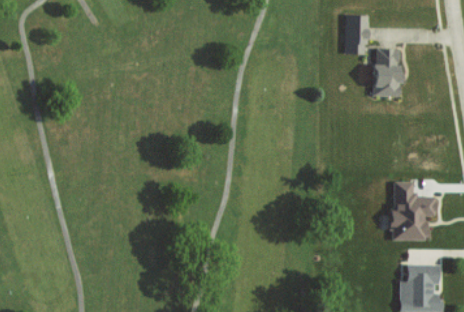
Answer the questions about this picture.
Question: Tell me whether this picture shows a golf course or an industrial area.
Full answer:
The picture captures a golf course.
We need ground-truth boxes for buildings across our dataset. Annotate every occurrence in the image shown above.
[345,15,362,56]
[401,266,445,312]
[374,49,406,98]
[392,182,440,242]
